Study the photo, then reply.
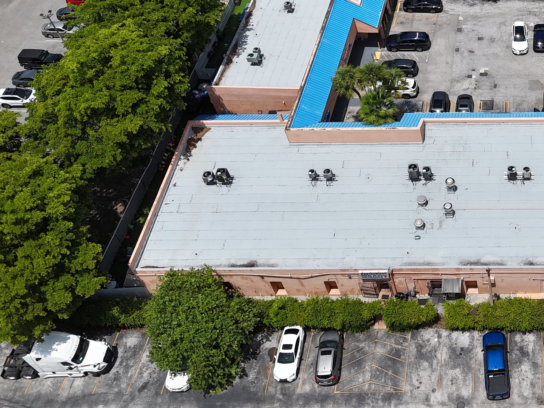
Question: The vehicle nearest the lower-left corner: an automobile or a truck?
truck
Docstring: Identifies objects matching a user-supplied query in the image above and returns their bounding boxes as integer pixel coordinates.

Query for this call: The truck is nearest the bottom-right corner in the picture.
[480,329,512,404]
